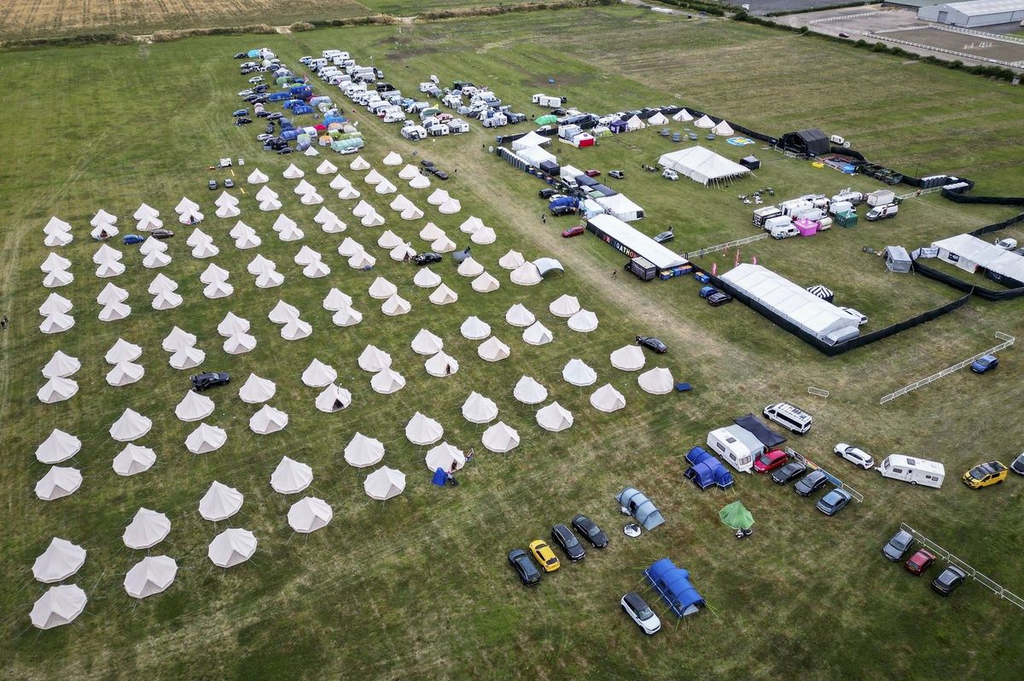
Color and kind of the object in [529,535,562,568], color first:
yellow car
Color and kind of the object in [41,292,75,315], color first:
white tent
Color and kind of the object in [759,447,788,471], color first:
red car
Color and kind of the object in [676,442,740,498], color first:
blue tent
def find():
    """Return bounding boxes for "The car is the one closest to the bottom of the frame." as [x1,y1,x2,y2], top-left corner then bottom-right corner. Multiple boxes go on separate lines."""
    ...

[623,589,665,630]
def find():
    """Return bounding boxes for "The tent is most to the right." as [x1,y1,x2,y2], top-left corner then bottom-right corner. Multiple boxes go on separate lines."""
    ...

[935,235,1024,296]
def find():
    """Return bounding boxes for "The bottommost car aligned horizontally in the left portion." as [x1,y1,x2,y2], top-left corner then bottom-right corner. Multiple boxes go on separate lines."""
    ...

[191,371,227,389]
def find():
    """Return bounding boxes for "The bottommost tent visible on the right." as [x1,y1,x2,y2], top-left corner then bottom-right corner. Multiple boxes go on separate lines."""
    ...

[637,557,721,624]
